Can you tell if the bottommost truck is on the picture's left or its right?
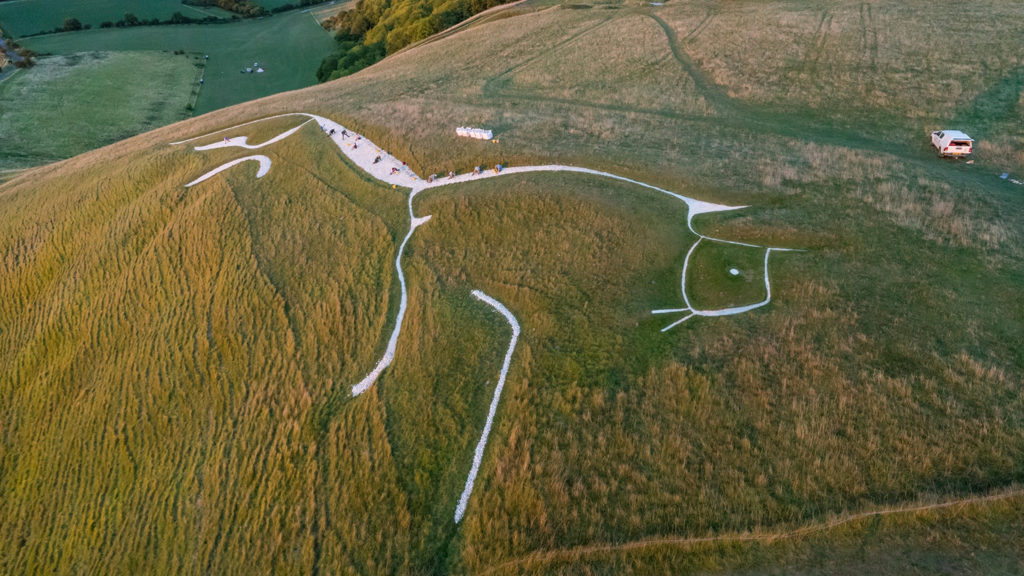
right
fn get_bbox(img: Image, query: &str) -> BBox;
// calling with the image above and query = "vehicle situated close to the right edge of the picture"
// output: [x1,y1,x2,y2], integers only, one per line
[932,123,976,158]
